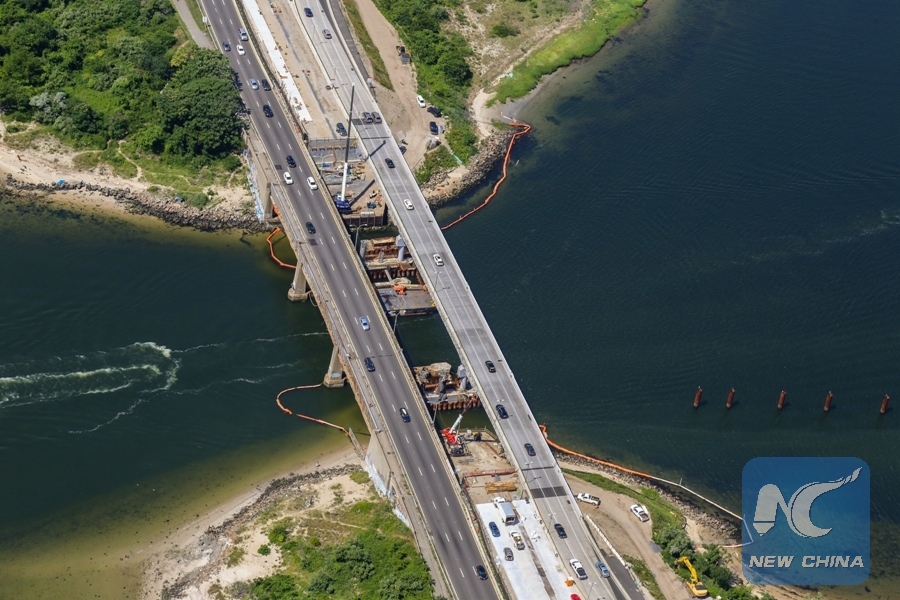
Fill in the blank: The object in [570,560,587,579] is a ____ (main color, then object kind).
white vehicle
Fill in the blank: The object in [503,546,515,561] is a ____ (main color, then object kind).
gray vehicle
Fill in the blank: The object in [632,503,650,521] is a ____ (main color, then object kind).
white vehicle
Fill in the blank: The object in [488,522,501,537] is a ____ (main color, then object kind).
blue vehicle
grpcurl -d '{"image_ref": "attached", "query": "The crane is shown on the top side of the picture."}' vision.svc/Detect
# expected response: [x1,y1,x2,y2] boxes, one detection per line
[333,82,359,215]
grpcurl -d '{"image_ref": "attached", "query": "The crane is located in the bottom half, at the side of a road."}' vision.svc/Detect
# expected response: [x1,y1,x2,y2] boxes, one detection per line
[440,396,475,456]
